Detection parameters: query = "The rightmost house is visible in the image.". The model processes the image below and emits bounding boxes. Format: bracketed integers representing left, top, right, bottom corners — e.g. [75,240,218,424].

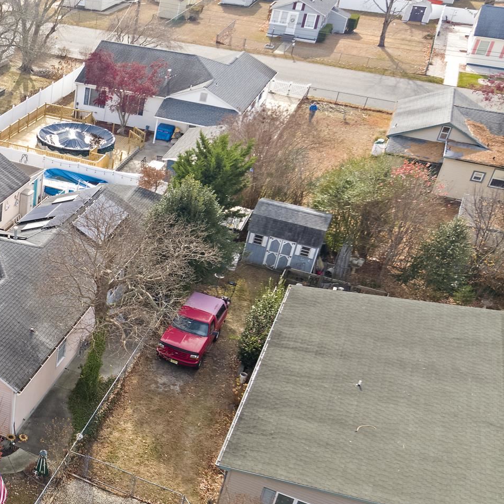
[466,1,504,75]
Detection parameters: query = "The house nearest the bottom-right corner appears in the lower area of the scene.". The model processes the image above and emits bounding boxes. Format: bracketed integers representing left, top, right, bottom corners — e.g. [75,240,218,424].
[208,283,504,504]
